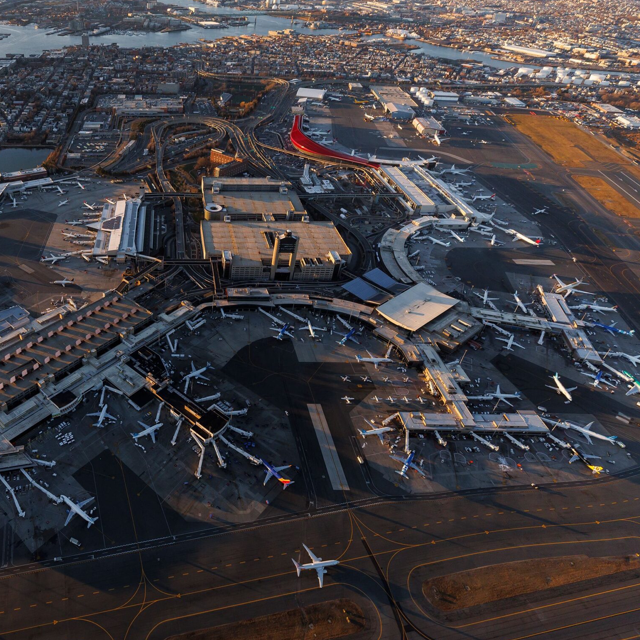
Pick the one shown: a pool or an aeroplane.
aeroplane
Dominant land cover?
paved ground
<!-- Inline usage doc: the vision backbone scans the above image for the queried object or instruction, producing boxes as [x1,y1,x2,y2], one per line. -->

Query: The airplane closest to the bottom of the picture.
[291,543,338,587]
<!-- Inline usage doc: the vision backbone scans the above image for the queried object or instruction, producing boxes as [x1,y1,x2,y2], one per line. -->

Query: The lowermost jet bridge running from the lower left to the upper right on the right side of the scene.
[380,410,402,427]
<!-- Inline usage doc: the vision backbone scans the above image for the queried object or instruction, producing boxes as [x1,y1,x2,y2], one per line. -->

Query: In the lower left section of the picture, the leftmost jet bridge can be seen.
[0,474,26,520]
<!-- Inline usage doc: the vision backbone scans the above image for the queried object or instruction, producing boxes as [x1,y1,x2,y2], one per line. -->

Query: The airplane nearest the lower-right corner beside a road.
[571,449,605,473]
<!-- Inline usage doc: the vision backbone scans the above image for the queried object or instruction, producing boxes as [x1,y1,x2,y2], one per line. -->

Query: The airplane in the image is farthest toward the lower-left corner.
[62,497,100,529]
